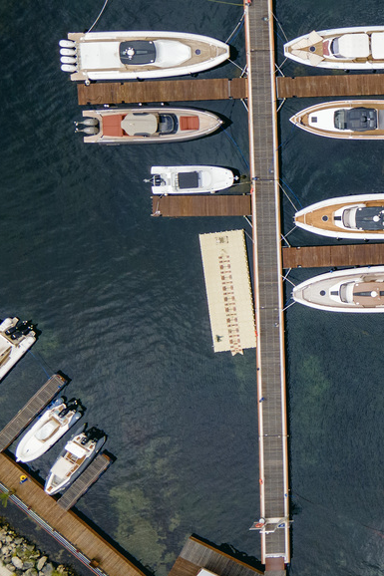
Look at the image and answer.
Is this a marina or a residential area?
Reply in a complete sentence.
What you see here is a marina.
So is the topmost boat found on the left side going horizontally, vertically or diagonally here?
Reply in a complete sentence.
I'd say the topmost boat found on the left side is aligned horizontally in the picture.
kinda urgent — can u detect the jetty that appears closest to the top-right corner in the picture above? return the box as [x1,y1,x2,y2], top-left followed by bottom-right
[277,74,384,98]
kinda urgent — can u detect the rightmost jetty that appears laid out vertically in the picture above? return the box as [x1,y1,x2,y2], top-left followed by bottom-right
[244,0,292,571]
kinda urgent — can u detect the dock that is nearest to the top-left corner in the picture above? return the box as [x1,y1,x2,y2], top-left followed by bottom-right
[77,78,247,105]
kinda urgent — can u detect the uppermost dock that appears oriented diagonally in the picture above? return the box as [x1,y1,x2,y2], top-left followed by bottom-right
[0,374,70,450]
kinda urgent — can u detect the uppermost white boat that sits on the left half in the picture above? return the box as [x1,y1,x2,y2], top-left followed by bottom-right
[60,32,232,81]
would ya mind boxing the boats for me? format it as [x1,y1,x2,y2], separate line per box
[16,401,82,464]
[294,193,384,240]
[145,166,240,194]
[75,107,224,143]
[44,426,105,495]
[292,264,384,312]
[60,32,232,81]
[283,27,384,70]
[0,317,37,386]
[288,100,384,139]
